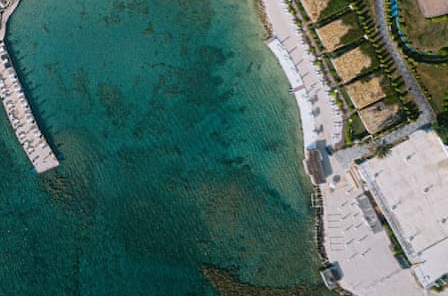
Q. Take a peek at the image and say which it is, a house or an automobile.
house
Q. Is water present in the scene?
Yes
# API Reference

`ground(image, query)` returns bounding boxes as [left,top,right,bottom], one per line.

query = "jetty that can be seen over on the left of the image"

[0,39,60,173]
